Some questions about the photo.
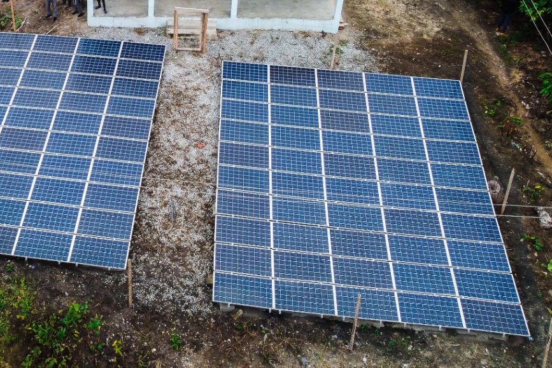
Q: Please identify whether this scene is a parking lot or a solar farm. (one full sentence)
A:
The area seen from above is a solar farm.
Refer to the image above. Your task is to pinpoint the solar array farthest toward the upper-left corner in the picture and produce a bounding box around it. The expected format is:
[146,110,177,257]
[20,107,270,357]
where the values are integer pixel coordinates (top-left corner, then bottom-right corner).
[0,32,164,275]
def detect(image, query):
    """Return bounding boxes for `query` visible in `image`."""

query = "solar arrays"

[0,32,164,275]
[212,62,530,344]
